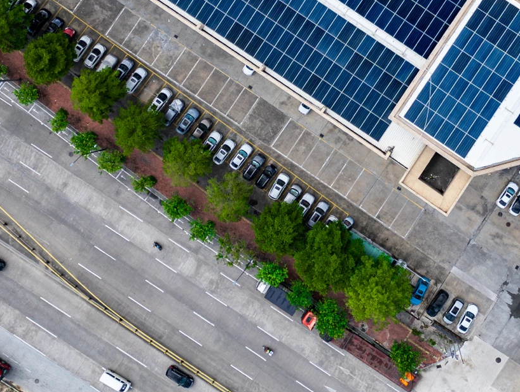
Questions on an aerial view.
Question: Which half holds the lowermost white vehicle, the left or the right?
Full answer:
You can find the lowermost white vehicle on the left side of the picture.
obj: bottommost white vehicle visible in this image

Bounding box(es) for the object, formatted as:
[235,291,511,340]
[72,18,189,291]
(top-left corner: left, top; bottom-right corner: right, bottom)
[98,368,132,392]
